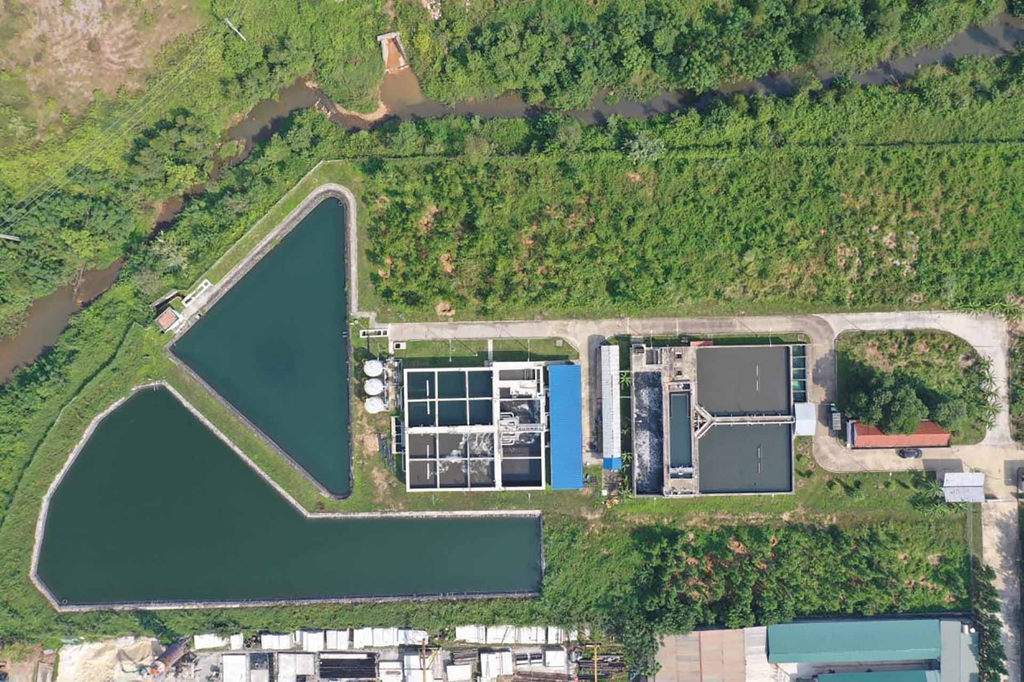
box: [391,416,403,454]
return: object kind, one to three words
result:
water tank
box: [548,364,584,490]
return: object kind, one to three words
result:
shed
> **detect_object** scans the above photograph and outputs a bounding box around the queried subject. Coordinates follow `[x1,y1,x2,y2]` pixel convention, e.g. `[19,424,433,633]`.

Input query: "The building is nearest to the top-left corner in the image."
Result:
[155,307,187,331]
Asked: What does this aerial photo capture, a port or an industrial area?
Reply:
industrial area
